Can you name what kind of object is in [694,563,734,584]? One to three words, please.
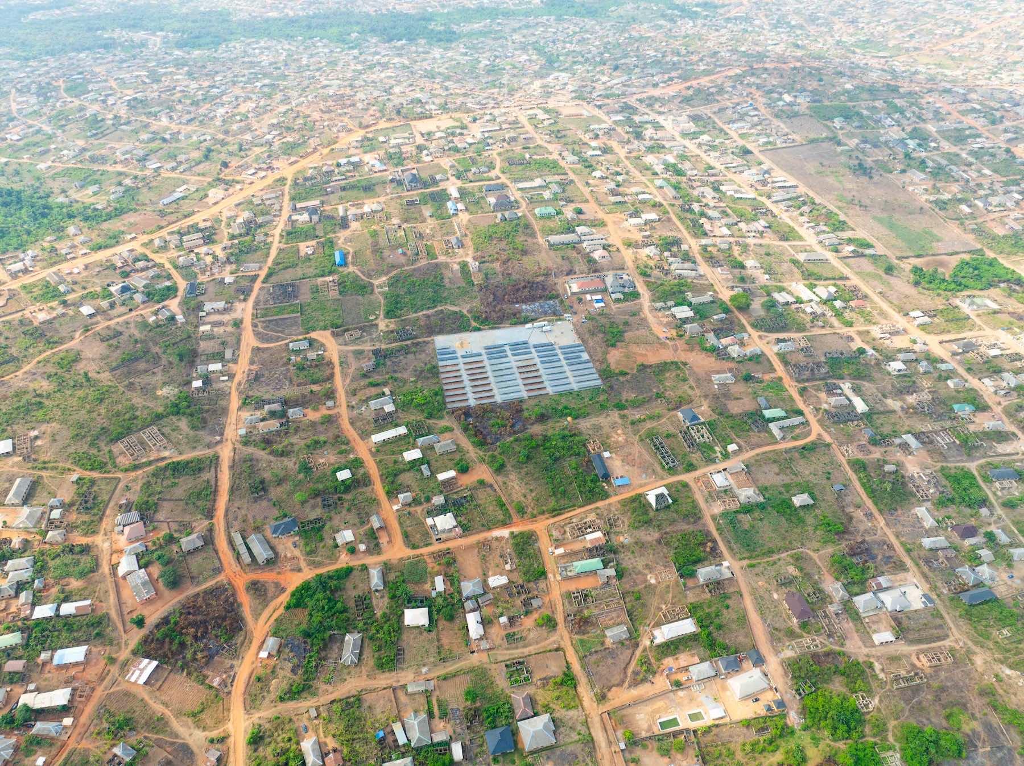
house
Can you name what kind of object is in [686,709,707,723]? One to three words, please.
swimming pool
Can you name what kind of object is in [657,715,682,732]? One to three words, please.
swimming pool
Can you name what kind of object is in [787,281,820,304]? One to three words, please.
house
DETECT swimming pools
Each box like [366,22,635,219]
[686,709,707,723]
[657,715,682,732]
